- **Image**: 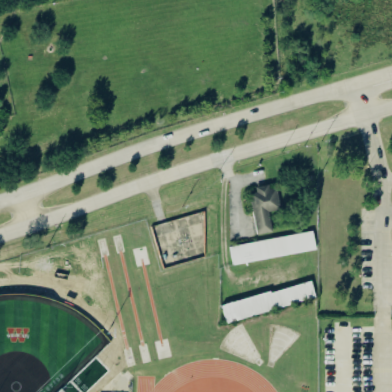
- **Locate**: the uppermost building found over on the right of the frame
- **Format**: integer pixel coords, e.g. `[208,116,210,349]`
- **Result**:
[250,182,278,235]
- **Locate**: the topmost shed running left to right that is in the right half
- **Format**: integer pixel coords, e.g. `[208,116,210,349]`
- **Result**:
[229,231,317,265]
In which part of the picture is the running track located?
bottom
